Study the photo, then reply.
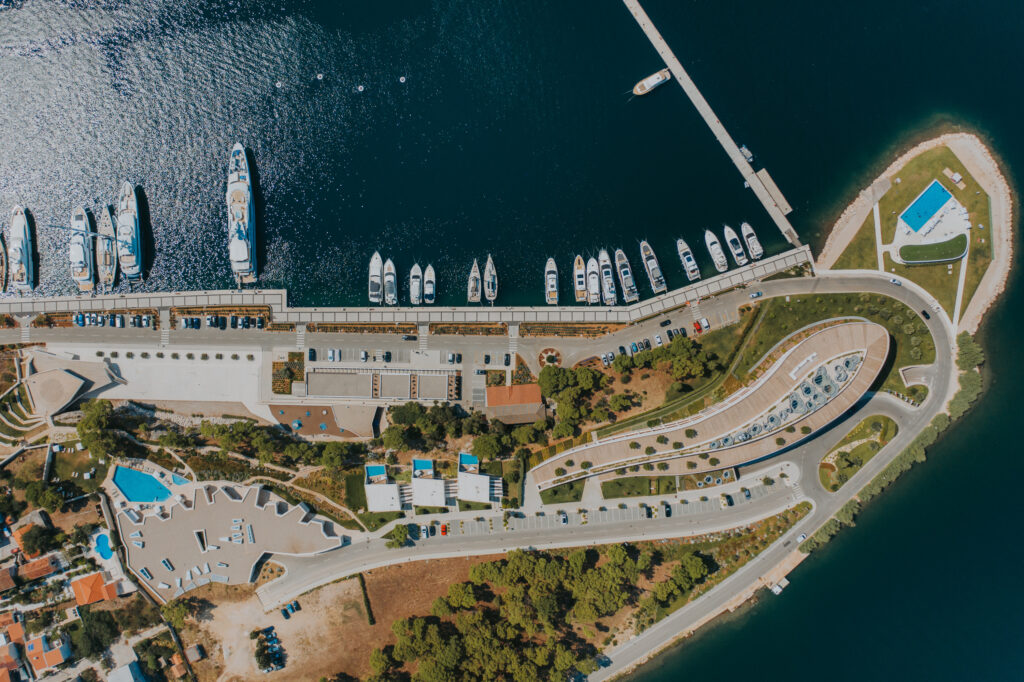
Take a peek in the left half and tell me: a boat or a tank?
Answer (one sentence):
Looking in the left half, you will find a boat.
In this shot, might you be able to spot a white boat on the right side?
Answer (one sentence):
Yes, the scene does show a white boat on the right side.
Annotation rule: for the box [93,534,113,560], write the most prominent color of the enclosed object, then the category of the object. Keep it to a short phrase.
blue swimming pool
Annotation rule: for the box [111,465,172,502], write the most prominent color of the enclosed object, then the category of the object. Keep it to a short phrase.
blue swimming pool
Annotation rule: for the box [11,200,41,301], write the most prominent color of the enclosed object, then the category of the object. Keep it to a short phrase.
white boat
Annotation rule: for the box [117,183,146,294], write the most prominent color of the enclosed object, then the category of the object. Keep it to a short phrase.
white boat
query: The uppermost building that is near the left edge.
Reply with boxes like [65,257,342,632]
[26,351,127,418]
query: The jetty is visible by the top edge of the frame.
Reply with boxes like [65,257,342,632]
[622,0,799,242]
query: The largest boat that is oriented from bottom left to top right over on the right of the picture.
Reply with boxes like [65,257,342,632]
[627,68,674,104]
